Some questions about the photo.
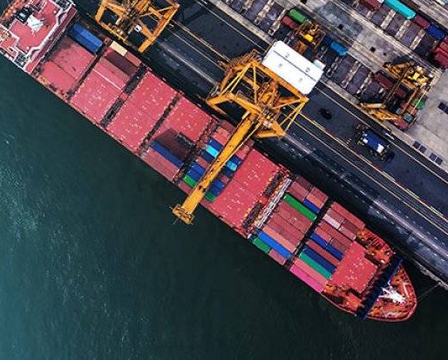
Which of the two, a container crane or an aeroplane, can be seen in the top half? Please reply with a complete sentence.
There is a container crane in the top half.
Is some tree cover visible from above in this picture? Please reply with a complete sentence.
No, tree cover can't be seen anywhere here.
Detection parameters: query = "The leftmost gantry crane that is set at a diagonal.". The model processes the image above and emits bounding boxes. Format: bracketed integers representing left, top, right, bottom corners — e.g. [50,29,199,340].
[169,21,329,227]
